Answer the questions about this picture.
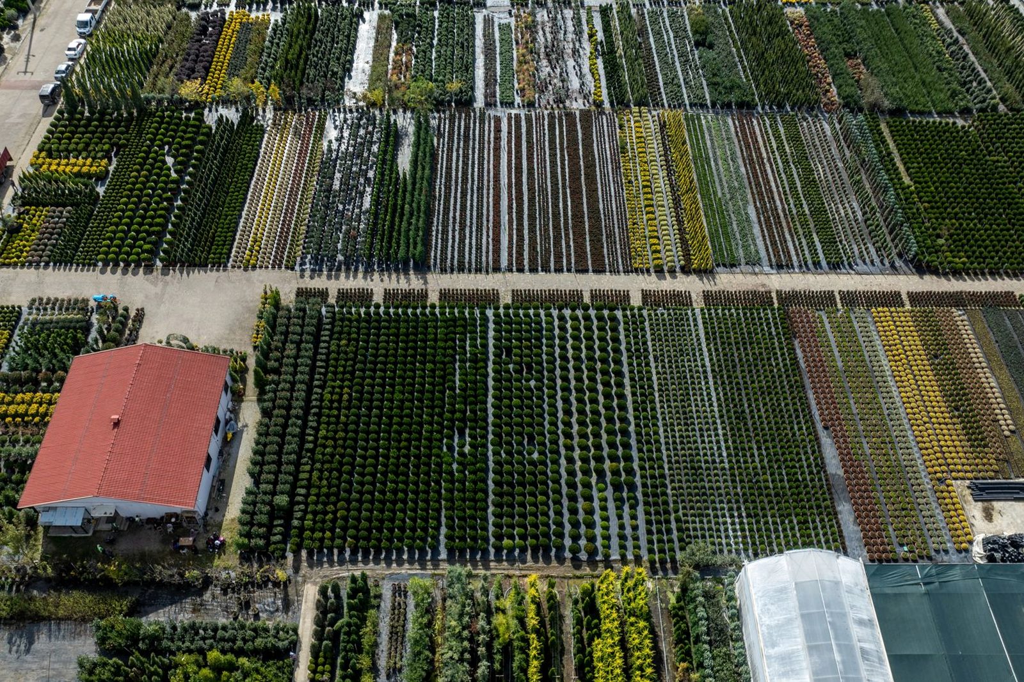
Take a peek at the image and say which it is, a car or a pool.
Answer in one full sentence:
There is a car in the scene.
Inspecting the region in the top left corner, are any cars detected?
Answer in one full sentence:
Yes, the scene does show a car in the top left corner.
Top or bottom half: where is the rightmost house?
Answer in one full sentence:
You can find the rightmost house in the bottom half.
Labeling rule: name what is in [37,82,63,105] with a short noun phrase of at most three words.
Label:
car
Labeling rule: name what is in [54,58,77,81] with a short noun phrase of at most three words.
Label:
car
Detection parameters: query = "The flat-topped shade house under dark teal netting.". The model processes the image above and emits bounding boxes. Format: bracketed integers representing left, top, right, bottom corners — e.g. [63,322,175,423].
[863,563,1024,682]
